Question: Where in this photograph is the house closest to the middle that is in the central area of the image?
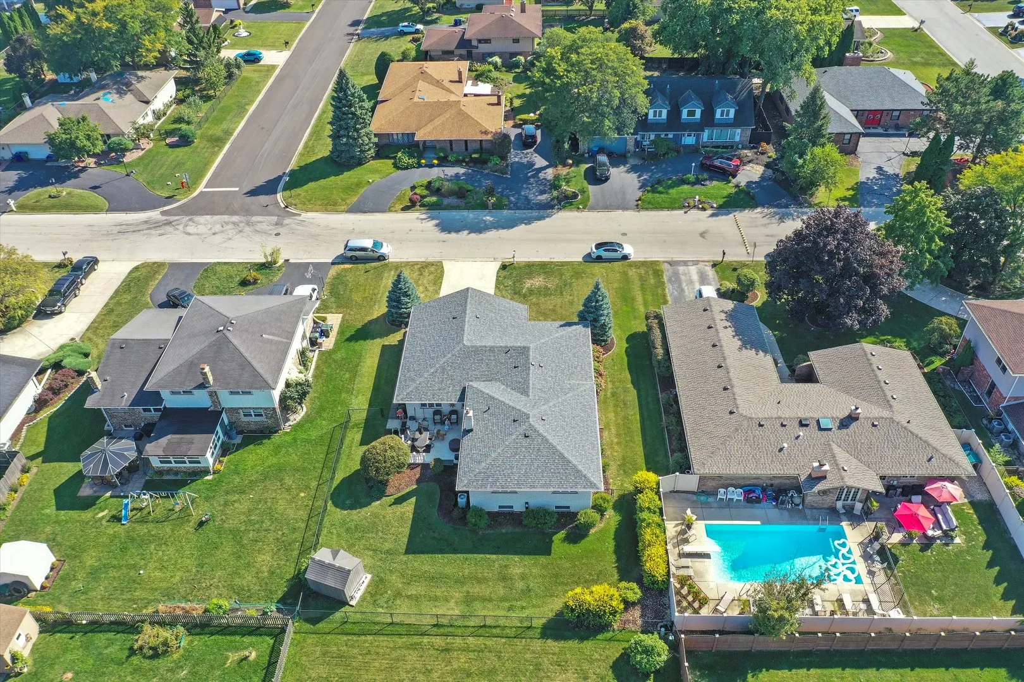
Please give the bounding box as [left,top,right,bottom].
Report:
[391,290,605,517]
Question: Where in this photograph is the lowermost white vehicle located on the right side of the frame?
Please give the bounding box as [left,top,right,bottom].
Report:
[694,286,718,299]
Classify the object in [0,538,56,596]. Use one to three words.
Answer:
shed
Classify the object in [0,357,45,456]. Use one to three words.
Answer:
house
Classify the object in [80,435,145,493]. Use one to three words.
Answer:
gazebo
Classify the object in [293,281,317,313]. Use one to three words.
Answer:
car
